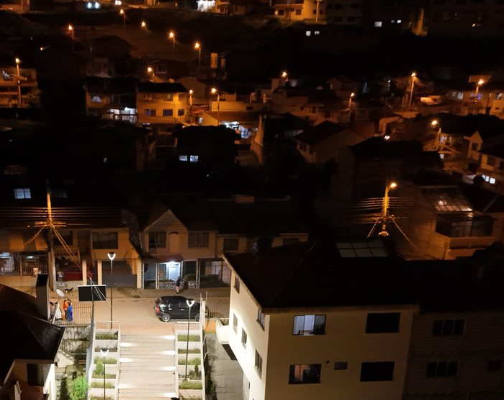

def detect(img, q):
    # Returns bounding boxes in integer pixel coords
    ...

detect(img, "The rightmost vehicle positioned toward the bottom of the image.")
[153,295,200,318]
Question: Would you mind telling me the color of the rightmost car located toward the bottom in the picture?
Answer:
black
